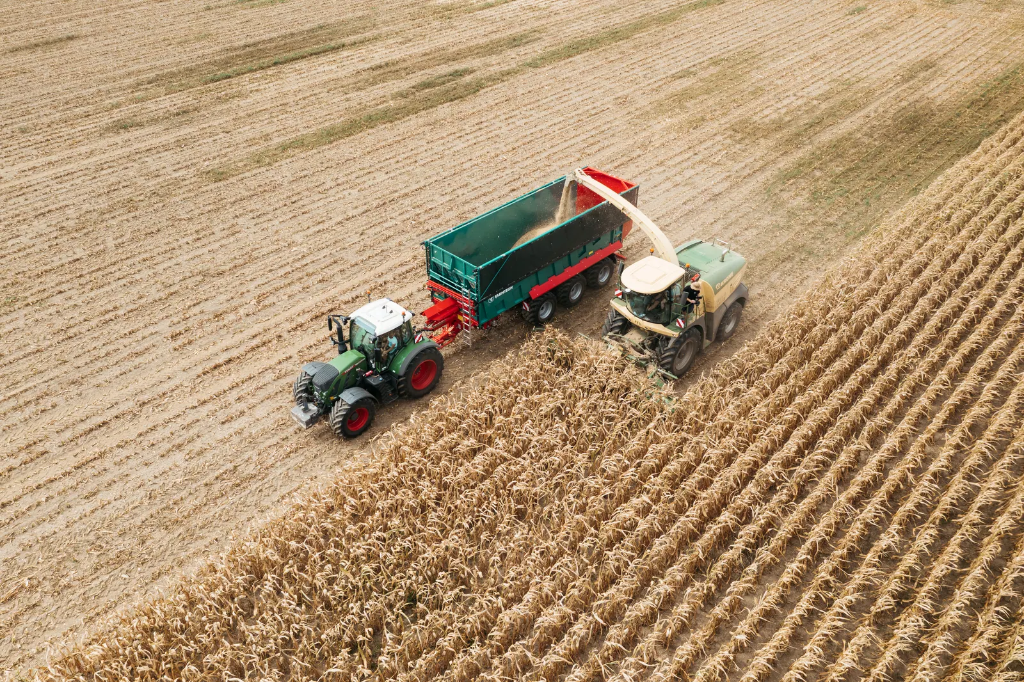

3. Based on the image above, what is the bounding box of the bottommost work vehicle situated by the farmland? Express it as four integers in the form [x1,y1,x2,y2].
[291,295,447,442]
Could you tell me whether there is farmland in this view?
Yes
